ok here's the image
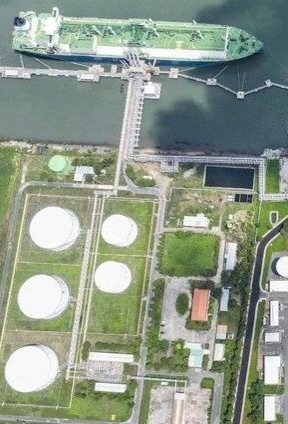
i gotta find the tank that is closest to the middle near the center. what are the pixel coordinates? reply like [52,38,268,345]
[101,213,140,249]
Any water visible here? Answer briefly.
Yes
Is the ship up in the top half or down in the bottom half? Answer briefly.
top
